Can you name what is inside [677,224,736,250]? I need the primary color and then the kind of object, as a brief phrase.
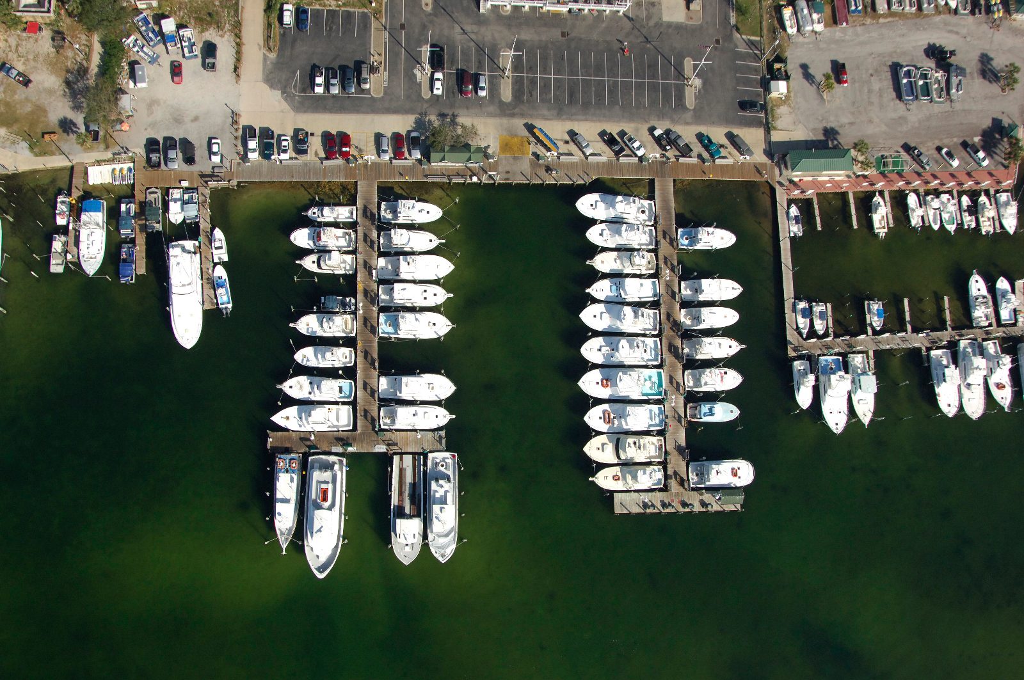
white boat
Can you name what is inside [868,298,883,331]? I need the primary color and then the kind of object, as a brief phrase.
white boat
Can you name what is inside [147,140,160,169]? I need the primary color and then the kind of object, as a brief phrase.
black vehicle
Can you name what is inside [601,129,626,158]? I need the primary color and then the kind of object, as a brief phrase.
black truck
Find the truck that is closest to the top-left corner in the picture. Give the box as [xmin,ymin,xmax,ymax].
[0,62,33,88]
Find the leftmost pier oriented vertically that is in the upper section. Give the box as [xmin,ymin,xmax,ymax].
[67,162,85,261]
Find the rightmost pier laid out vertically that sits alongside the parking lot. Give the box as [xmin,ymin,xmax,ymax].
[614,179,740,514]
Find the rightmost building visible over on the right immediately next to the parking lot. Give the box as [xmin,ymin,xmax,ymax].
[789,149,854,181]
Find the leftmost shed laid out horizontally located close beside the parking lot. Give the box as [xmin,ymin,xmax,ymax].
[431,142,484,167]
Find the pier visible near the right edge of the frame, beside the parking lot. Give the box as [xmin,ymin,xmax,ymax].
[775,186,1024,356]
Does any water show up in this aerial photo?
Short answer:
Yes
